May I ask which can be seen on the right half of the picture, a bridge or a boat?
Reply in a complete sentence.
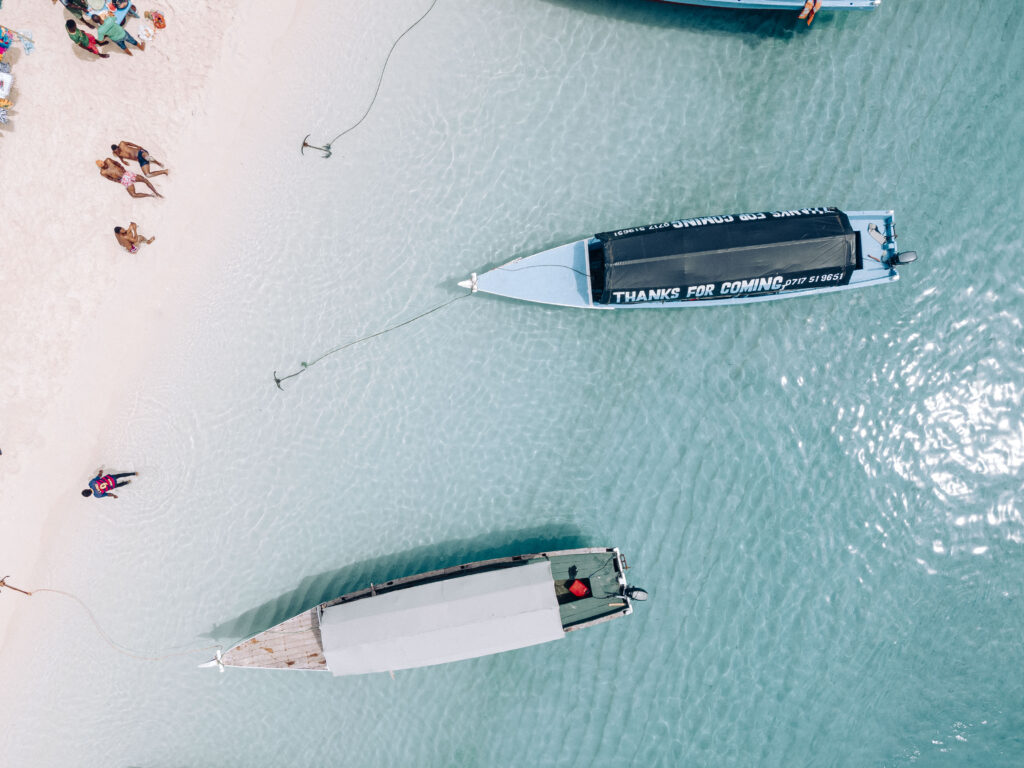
It is a boat that can be seen on the right half of the picture.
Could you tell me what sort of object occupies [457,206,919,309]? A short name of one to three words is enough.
boat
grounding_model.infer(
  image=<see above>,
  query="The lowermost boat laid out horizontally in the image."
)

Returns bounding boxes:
[198,544,645,678]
